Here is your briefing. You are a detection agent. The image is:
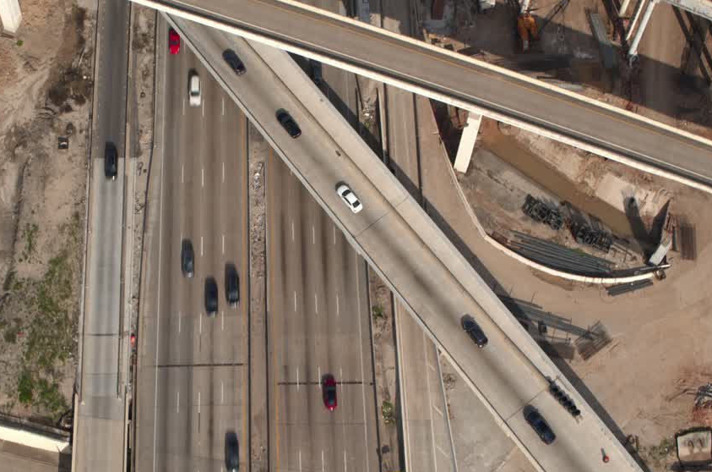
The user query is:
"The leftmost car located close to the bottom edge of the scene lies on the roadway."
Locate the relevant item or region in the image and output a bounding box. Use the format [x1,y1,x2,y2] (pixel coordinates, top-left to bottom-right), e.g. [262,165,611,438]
[224,435,241,471]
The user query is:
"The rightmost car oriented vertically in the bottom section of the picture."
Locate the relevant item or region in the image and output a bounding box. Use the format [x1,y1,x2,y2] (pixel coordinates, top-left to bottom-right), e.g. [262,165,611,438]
[323,376,339,409]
